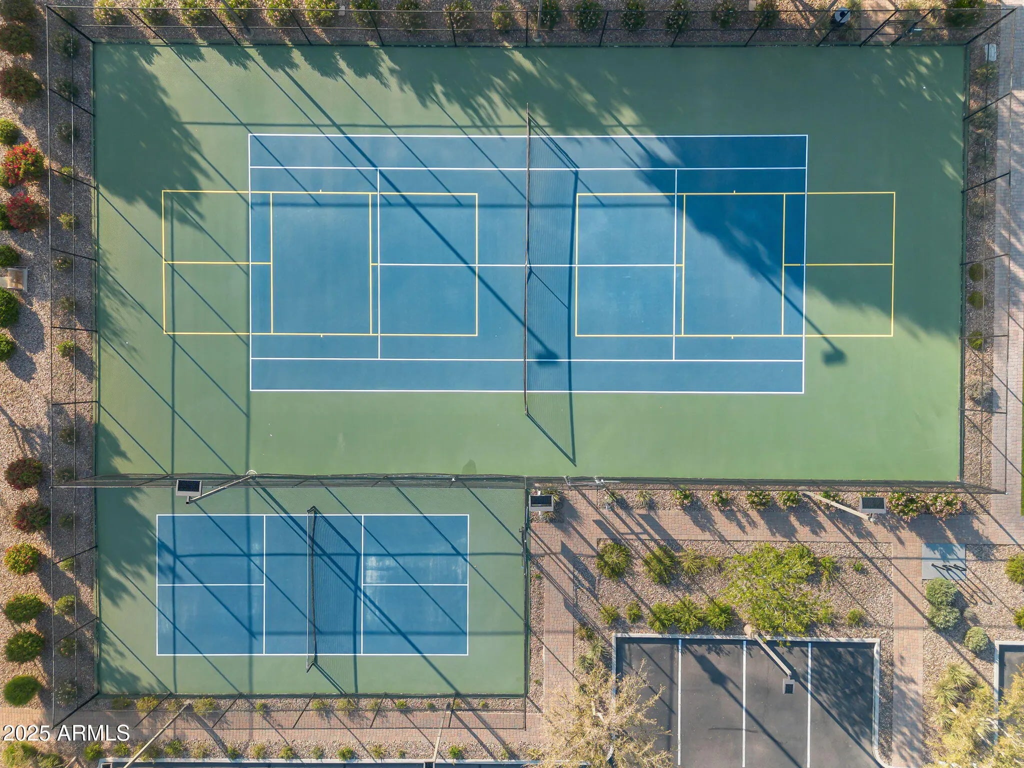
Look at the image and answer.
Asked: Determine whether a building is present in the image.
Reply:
No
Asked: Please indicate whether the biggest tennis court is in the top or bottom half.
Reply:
top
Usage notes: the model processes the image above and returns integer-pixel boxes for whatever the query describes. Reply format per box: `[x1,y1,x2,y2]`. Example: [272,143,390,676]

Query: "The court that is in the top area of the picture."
[90,37,971,483]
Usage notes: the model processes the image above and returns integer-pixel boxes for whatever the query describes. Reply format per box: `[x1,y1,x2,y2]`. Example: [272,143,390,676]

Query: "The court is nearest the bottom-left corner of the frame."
[93,481,531,700]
